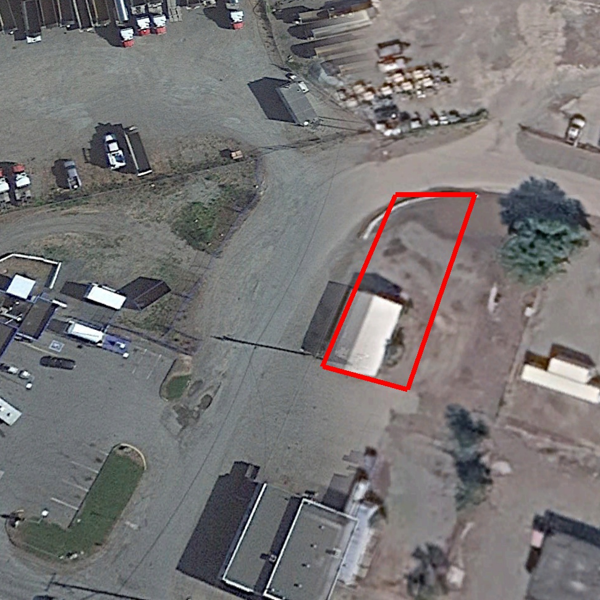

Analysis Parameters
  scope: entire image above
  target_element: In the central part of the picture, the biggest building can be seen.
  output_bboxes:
[325,293,402,375]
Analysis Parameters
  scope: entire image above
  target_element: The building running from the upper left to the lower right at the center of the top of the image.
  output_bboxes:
[277,81,316,126]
